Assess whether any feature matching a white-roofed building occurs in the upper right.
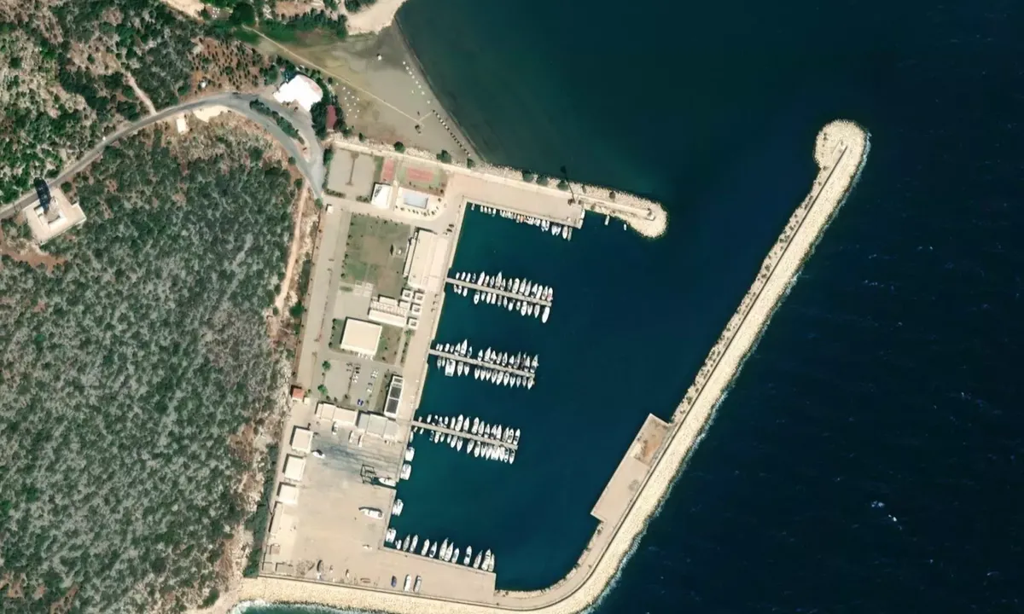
No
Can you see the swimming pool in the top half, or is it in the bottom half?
top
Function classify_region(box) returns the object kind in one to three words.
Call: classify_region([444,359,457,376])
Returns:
boat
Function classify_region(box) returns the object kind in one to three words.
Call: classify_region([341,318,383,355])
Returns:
building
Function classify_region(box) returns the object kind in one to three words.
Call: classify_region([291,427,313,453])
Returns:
shed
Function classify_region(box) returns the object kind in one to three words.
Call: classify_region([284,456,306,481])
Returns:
shed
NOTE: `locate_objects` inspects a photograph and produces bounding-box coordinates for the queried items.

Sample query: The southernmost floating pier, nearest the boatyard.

[411,420,518,450]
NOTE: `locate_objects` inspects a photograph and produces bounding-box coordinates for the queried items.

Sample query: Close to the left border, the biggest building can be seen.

[24,188,87,245]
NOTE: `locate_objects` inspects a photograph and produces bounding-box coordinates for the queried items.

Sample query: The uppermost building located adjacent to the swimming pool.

[372,183,393,209]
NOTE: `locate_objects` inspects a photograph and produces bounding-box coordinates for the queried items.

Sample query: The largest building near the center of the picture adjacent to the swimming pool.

[408,230,448,290]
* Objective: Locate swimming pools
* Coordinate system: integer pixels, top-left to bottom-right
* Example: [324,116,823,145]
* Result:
[394,187,444,220]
